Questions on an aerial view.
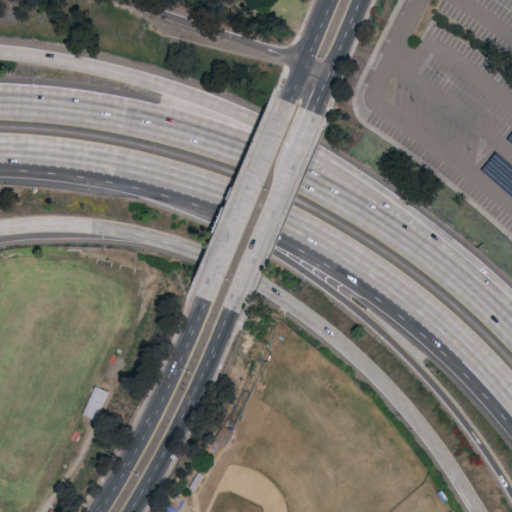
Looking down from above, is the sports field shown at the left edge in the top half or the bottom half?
bottom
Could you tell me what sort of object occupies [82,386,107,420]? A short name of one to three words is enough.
building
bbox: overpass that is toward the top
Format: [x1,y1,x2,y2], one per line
[187,90,328,316]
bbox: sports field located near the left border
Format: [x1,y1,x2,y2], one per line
[0,257,139,512]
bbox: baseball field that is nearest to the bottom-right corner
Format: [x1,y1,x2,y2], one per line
[196,318,452,512]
